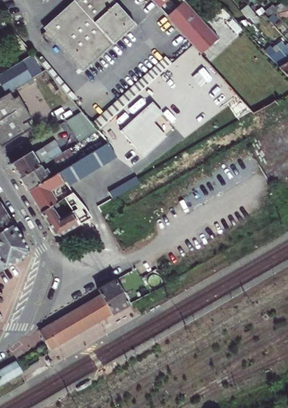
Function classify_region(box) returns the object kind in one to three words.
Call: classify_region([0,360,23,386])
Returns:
shed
